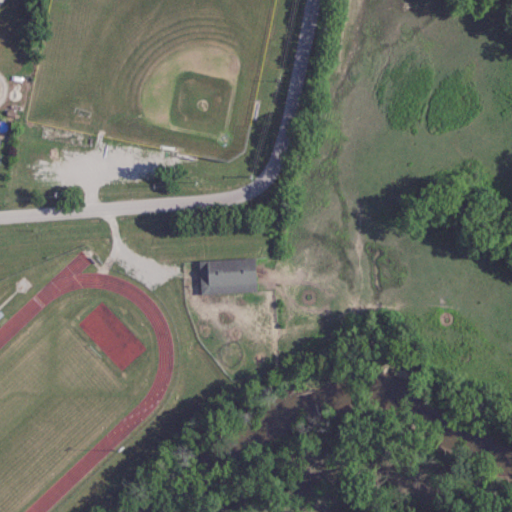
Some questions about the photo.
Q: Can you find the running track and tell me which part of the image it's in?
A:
bottom left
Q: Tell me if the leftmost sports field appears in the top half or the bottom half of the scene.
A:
bottom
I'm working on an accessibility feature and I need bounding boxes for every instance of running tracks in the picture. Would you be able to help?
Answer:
[0,256,174,512]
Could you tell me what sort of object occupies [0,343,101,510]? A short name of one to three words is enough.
sports field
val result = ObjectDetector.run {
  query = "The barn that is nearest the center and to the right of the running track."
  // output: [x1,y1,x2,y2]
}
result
[200,259,258,294]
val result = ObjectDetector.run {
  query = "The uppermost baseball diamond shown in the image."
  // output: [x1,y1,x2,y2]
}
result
[28,0,277,162]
